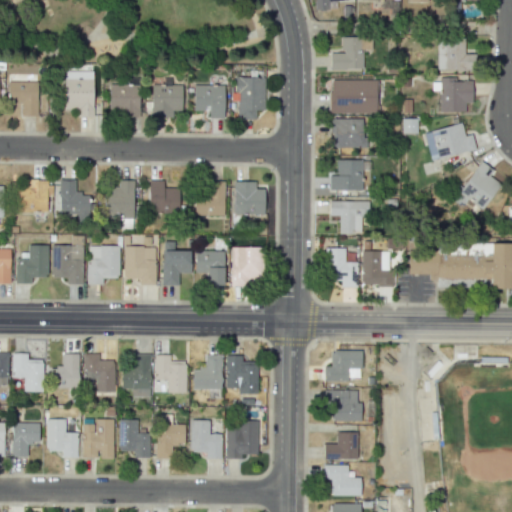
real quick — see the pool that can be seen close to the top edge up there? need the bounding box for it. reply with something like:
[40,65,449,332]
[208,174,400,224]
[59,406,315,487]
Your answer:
[464,6,482,18]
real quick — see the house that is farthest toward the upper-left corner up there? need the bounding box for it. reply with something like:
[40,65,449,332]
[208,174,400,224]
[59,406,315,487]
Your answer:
[10,82,39,117]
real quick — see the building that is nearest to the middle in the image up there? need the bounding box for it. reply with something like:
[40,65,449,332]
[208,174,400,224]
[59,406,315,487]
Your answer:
[232,248,264,288]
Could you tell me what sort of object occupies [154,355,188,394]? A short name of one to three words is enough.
house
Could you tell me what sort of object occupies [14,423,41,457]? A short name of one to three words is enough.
house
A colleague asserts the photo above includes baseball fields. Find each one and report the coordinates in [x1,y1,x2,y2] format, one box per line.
[459,385,512,482]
